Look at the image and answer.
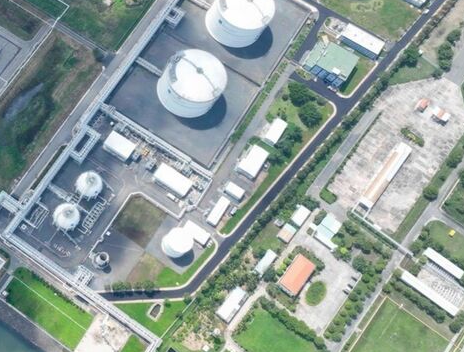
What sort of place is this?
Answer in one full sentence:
This looks like an industrial area.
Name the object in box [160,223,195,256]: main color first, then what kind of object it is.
white storage tank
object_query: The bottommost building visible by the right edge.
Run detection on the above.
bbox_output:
[400,271,459,316]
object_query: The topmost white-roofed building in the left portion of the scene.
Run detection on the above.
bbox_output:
[103,131,135,159]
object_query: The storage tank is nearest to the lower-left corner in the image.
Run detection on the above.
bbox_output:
[50,202,80,232]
